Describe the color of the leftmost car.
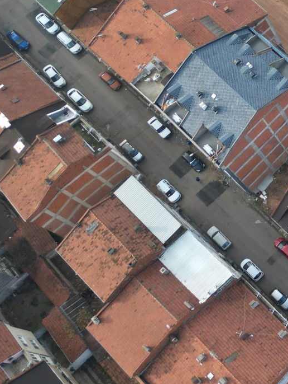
blue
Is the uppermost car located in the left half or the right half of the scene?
left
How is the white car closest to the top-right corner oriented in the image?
at an angle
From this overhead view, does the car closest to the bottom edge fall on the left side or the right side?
right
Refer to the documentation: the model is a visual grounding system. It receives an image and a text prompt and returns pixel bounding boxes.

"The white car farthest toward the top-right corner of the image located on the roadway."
[146,114,174,140]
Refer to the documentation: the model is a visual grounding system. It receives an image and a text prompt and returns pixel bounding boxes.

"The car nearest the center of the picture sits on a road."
[153,177,183,204]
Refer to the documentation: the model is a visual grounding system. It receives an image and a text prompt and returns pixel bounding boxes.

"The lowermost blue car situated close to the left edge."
[5,29,30,50]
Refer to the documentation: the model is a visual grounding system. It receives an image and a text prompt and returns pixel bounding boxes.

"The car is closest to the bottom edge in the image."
[267,284,288,311]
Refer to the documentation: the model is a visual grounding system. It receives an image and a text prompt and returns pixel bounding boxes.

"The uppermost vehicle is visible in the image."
[35,13,61,35]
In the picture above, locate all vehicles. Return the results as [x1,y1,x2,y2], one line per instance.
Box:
[35,13,61,35]
[5,29,30,50]
[153,177,183,204]
[97,69,123,91]
[206,226,234,251]
[238,255,267,284]
[66,88,93,112]
[116,137,146,165]
[42,64,67,88]
[146,114,174,140]
[177,146,208,175]
[57,31,83,54]
[267,284,288,311]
